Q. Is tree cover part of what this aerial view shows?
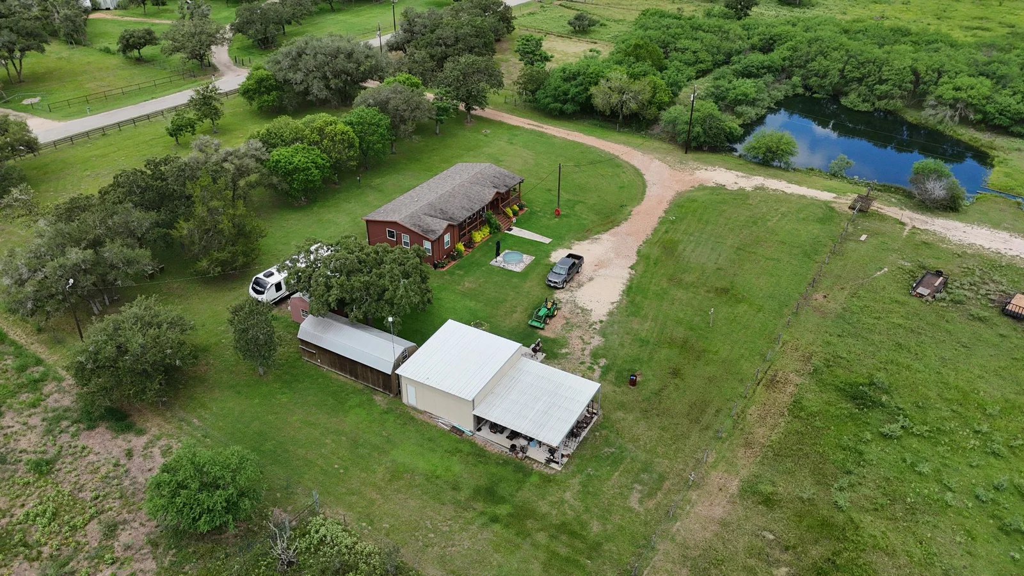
Yes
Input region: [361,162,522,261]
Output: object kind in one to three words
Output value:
house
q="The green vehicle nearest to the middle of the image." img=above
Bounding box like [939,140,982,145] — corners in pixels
[529,293,560,329]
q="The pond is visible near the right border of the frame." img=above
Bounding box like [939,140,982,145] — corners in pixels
[729,98,1024,202]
